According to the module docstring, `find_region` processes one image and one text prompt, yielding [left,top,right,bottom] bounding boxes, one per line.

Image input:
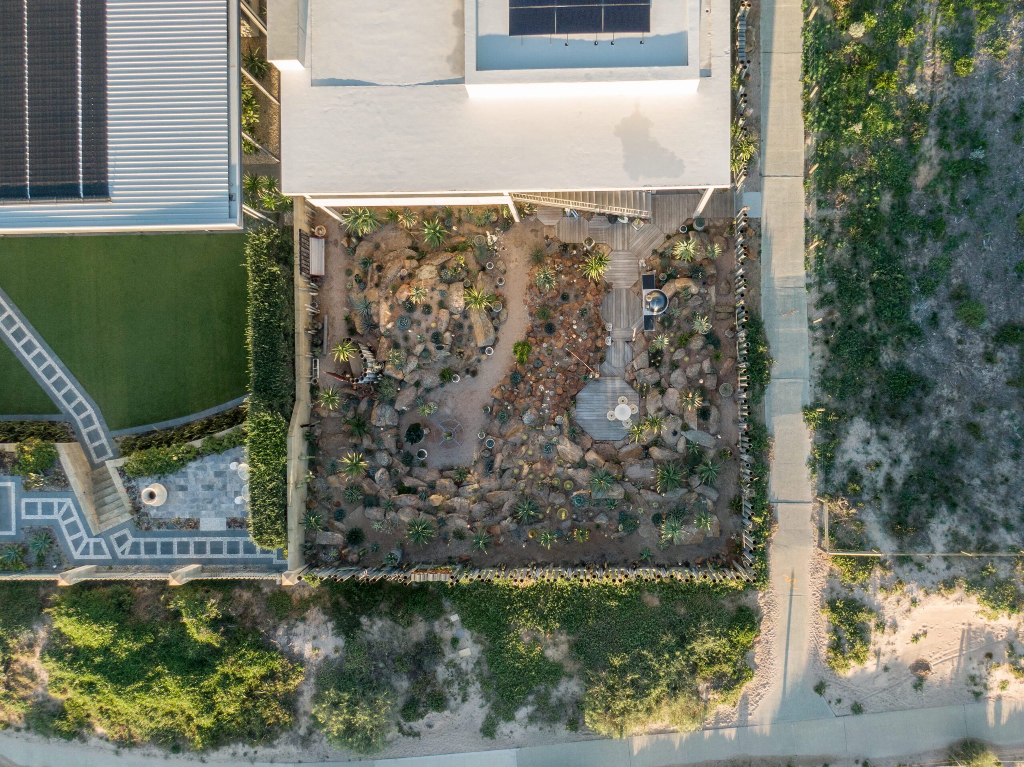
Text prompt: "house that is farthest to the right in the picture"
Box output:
[267,0,730,222]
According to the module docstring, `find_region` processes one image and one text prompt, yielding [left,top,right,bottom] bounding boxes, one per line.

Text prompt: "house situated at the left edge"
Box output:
[0,0,283,238]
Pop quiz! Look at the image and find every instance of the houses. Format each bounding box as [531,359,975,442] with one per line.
[0,0,283,238]
[267,0,730,222]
